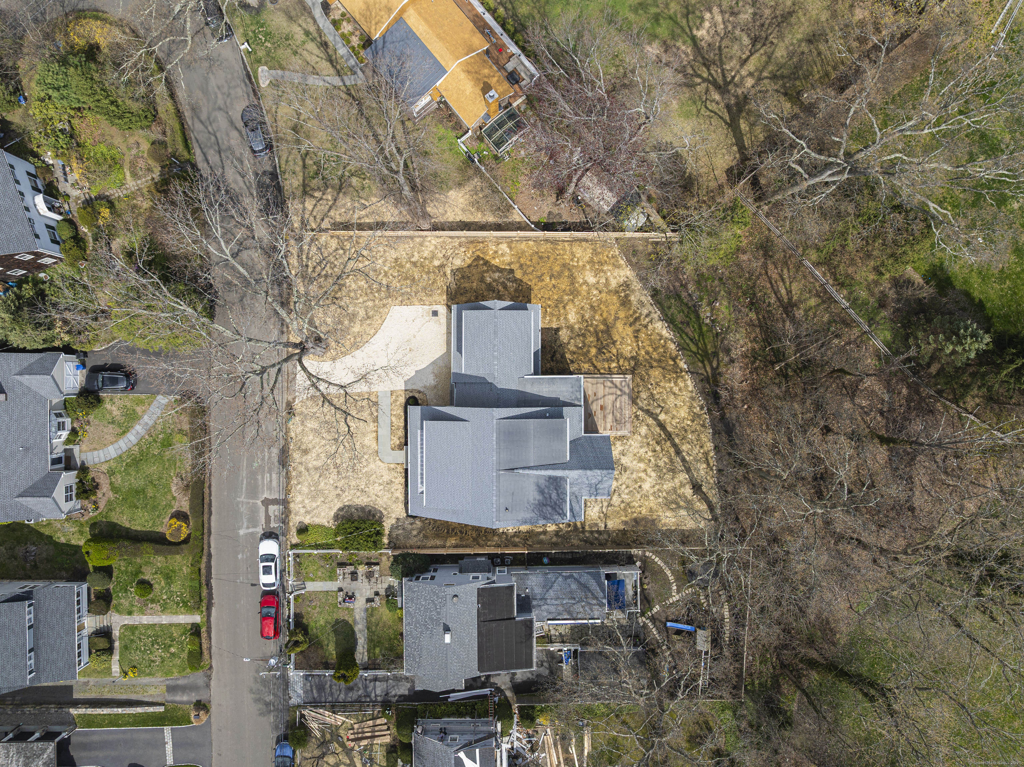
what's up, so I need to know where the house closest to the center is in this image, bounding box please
[404,300,614,528]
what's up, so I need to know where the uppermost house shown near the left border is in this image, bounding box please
[0,146,61,274]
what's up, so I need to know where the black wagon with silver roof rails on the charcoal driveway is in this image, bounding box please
[83,367,135,391]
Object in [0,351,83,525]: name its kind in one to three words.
house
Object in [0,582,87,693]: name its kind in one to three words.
house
